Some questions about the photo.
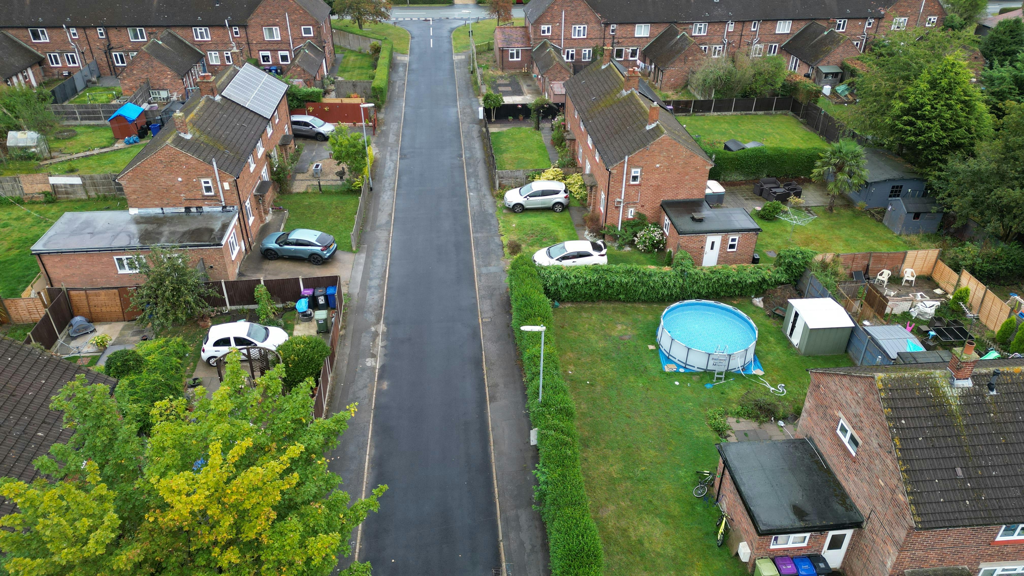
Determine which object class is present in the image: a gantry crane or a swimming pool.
swimming pool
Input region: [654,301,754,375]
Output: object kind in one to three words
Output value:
swimming pool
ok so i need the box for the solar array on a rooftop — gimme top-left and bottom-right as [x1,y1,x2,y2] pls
[215,61,287,119]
